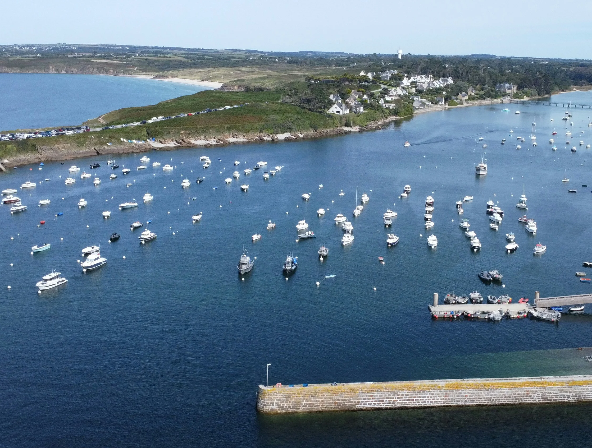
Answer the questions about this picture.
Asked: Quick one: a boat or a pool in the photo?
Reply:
boat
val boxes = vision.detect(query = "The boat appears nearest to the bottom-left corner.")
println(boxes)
[40,274,68,291]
